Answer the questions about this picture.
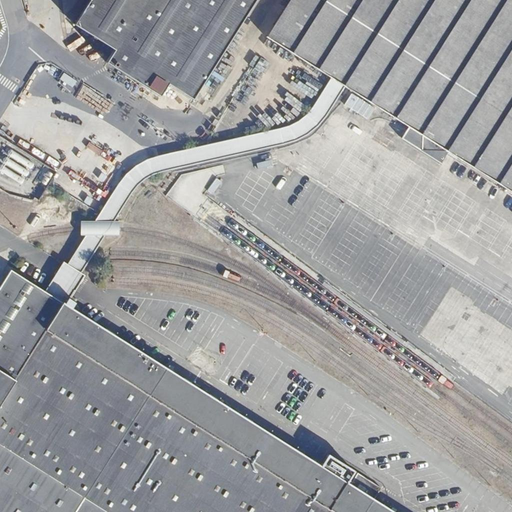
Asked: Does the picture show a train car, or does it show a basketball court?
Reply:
train car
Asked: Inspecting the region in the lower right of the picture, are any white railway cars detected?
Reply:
Yes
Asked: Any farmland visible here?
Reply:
No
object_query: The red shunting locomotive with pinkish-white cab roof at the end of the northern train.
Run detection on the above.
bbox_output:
[436,374,456,391]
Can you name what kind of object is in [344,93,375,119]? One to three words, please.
shed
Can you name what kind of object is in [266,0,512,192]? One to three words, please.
building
